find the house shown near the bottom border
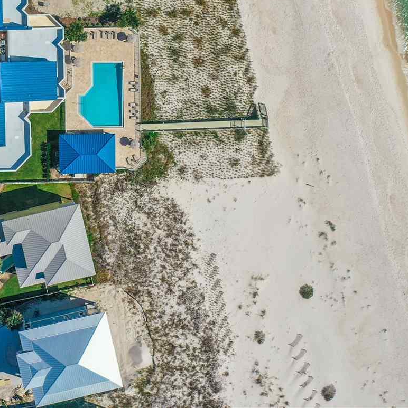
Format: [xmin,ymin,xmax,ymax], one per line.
[16,301,123,408]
